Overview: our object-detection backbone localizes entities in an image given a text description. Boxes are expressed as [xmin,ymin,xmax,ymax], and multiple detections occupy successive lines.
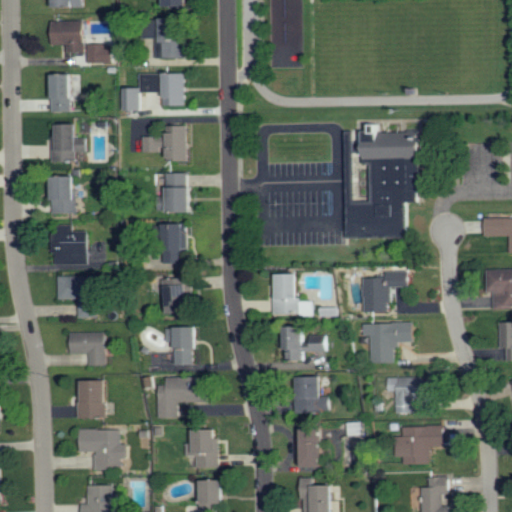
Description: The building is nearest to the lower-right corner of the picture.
[420,476,450,512]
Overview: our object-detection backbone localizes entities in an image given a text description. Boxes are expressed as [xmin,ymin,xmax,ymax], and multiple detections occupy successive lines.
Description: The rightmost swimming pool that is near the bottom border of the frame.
[164,480,196,500]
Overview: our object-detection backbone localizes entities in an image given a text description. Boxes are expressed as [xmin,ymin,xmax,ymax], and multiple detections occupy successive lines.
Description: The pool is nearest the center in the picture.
[298,272,336,306]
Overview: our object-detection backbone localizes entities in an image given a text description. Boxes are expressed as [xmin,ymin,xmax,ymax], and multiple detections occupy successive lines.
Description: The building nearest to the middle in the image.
[272,271,299,316]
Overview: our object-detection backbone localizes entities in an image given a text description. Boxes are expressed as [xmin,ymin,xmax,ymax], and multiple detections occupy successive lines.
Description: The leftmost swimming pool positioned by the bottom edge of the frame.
[128,478,150,512]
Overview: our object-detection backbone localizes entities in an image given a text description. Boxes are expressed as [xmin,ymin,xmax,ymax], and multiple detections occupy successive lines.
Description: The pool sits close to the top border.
[82,20,111,44]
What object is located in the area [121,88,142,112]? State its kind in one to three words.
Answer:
building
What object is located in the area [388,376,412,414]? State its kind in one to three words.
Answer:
house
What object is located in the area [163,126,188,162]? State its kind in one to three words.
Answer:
house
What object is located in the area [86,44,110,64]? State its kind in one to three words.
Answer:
building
